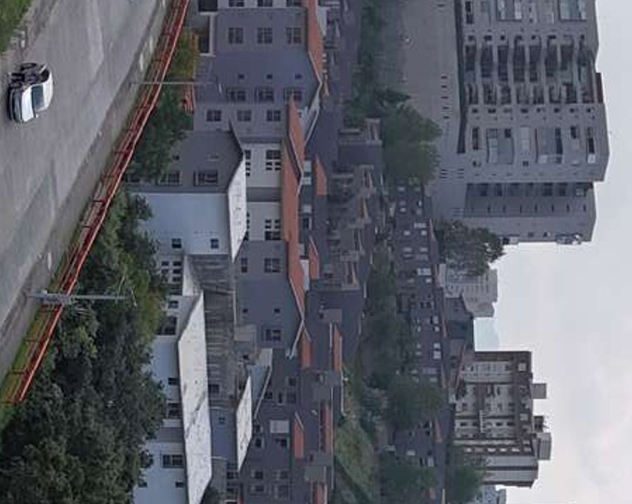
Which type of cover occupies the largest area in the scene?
buildings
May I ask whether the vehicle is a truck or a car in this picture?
car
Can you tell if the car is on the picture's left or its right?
left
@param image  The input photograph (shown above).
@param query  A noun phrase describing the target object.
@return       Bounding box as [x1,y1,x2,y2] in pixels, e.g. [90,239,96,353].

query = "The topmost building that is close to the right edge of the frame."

[432,0,611,246]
